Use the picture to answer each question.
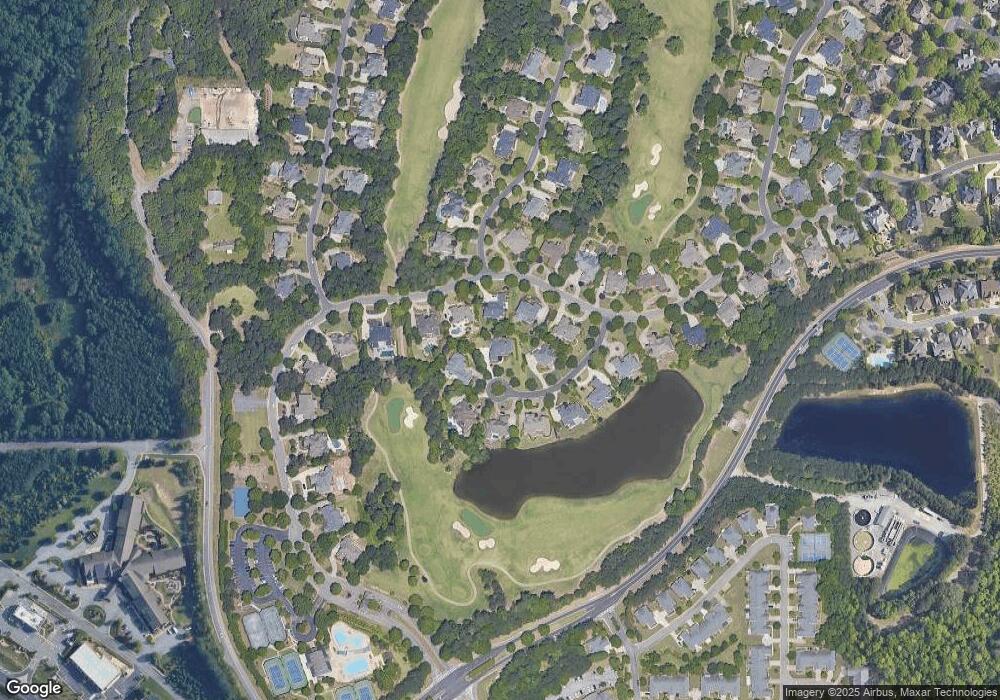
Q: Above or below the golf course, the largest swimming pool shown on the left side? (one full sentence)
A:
As seen from overhead, the largest swimming pool shown on the left side falls below the golf course in the picture.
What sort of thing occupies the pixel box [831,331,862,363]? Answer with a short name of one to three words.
tennis court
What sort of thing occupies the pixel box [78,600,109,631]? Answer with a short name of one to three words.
roundabout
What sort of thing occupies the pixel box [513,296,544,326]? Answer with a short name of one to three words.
house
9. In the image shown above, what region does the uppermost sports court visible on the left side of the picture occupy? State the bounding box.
[233,487,249,517]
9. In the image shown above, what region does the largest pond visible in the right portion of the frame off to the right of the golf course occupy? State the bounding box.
[880,527,942,597]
